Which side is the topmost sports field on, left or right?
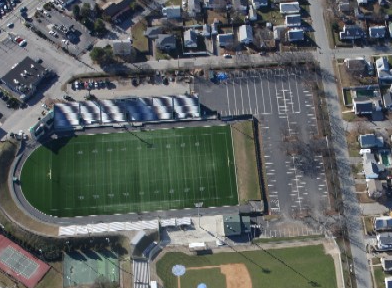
left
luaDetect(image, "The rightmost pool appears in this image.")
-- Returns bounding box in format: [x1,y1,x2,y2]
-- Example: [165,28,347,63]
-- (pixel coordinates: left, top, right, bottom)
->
[378,155,392,169]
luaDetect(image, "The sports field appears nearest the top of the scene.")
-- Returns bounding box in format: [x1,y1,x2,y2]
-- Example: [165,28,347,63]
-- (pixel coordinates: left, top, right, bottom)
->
[20,125,239,218]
